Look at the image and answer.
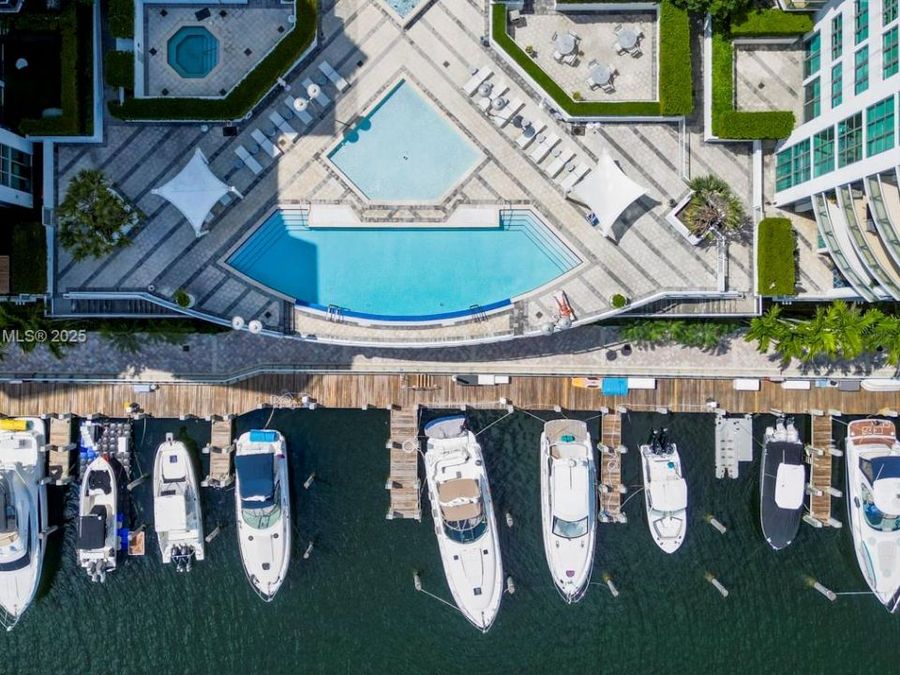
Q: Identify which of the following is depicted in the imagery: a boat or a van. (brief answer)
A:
boat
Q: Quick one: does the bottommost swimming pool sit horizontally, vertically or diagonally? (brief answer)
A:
horizontally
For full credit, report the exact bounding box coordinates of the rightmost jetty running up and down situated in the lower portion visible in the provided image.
[809,416,831,524]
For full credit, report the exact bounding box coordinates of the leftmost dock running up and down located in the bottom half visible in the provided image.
[49,417,74,478]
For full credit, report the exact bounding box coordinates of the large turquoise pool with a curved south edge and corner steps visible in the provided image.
[223,200,587,323]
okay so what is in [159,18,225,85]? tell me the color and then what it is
blue swimming pool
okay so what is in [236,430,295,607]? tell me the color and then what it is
white boat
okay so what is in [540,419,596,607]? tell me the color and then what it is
white boat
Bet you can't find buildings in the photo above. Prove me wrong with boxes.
[0,0,87,208]
[776,0,900,319]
